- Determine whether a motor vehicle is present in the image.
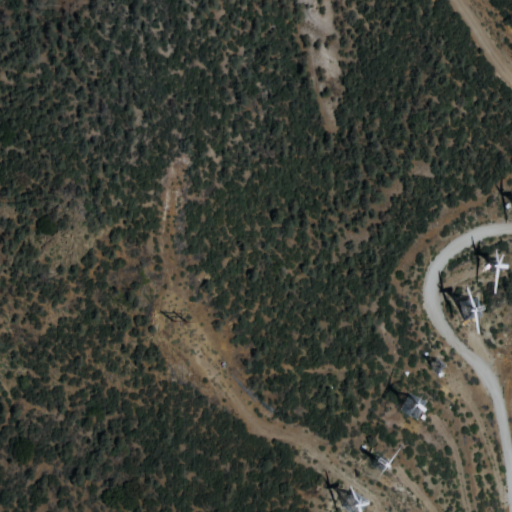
No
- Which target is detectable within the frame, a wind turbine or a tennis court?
wind turbine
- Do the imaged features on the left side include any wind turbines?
No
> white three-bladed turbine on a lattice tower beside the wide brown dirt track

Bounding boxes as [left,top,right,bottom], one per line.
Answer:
[343,484,372,512]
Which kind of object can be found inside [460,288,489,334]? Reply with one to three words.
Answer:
wind turbine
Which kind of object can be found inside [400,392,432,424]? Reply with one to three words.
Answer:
wind turbine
